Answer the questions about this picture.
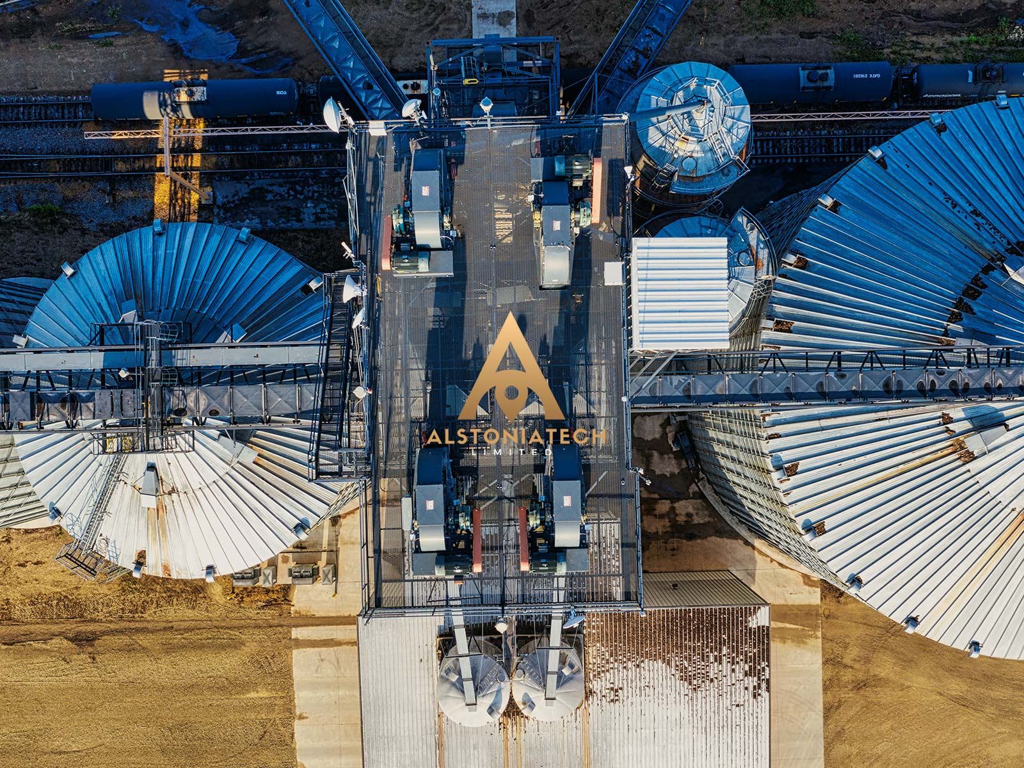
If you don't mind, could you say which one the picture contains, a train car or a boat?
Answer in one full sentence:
Visible in the photo is a train car.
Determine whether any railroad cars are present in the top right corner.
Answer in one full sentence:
Yes, looking in the top right corner, one can make out a railroad car.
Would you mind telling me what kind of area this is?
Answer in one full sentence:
The picture captures an industrial area.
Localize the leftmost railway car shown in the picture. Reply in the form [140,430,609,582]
[91,72,312,128]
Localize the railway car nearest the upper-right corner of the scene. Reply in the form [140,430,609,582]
[894,51,1024,108]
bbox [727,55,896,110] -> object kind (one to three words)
rail car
